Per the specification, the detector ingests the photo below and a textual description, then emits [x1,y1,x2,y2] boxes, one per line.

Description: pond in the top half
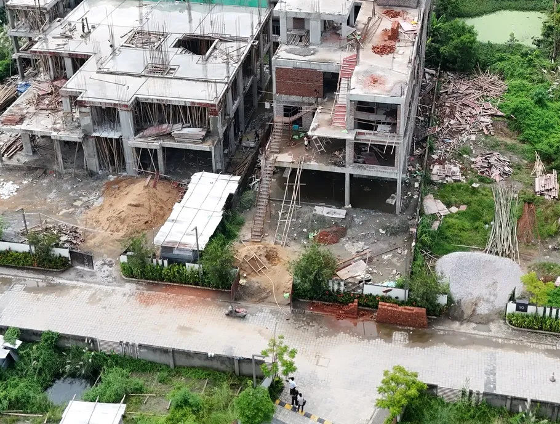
[458,9,550,44]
